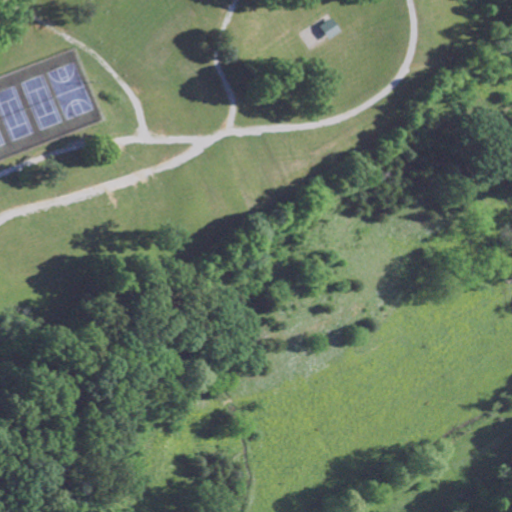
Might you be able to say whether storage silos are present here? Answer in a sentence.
No, this view has no storage silo in it.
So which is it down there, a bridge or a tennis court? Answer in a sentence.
It is a tennis court that can be seen here.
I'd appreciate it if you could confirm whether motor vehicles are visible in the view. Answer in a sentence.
No, this view has no motor vehicle in it.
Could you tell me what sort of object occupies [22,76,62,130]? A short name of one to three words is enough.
tennis court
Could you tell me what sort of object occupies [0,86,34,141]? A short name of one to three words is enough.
tennis court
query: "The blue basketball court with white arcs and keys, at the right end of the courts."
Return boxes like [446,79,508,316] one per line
[48,62,93,120]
